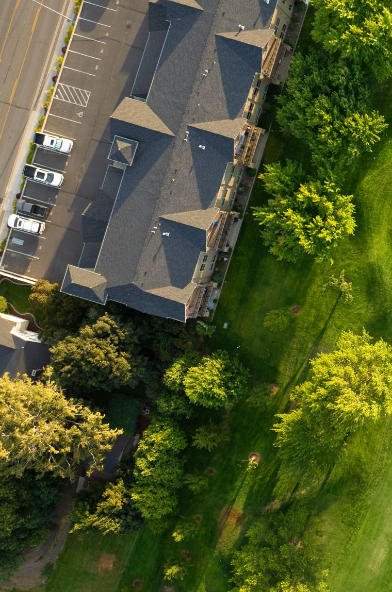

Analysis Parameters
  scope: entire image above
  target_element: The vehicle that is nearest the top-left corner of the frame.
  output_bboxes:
[34,132,76,154]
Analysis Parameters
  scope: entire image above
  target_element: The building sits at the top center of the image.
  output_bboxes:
[64,0,311,323]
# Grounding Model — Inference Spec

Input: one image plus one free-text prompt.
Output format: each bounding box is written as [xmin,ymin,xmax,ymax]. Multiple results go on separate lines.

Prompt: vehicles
[15,200,54,220]
[34,132,76,154]
[9,215,48,235]
[24,165,66,187]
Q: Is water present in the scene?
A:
No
